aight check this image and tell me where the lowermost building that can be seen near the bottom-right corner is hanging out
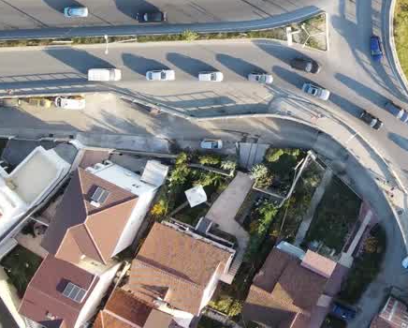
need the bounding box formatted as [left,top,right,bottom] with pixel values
[371,292,408,328]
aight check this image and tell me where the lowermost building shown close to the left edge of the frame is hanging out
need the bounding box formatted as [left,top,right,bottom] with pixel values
[19,255,131,328]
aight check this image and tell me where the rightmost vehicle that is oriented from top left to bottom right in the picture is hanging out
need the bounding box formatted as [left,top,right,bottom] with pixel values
[383,101,408,123]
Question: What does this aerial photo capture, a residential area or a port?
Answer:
residential area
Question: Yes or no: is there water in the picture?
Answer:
No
